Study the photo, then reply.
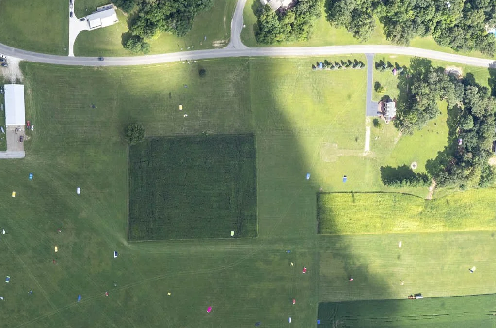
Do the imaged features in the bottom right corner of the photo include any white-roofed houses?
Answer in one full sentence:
No, there's no white-roofed house to be seen in the bottom right corner of the photo.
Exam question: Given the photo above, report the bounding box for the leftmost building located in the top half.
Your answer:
[4,84,25,126]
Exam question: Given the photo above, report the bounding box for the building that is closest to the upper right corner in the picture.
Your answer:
[371,99,395,121]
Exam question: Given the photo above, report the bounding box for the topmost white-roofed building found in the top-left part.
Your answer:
[86,4,117,32]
